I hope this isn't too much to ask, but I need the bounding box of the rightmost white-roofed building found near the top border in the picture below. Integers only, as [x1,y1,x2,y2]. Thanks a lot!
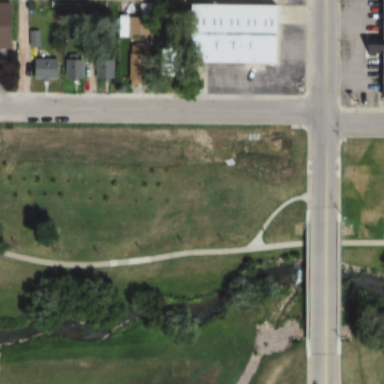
[196,4,278,64]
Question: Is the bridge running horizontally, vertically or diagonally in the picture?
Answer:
vertically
